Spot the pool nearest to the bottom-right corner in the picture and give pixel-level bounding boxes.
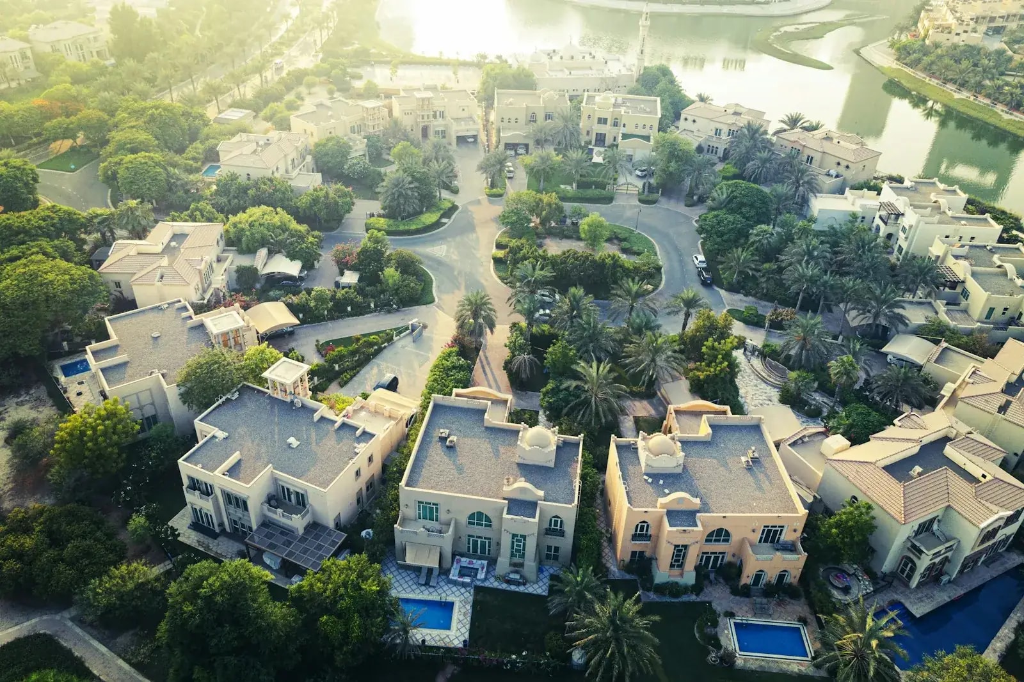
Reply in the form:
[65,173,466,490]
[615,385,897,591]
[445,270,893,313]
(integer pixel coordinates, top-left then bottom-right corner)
[870,556,1024,673]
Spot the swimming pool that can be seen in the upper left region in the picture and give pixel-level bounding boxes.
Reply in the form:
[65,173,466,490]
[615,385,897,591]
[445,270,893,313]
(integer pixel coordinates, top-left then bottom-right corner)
[197,163,222,177]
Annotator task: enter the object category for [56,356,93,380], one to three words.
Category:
swimming pool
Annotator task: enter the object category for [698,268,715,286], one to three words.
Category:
car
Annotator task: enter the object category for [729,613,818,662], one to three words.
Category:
swimming pool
